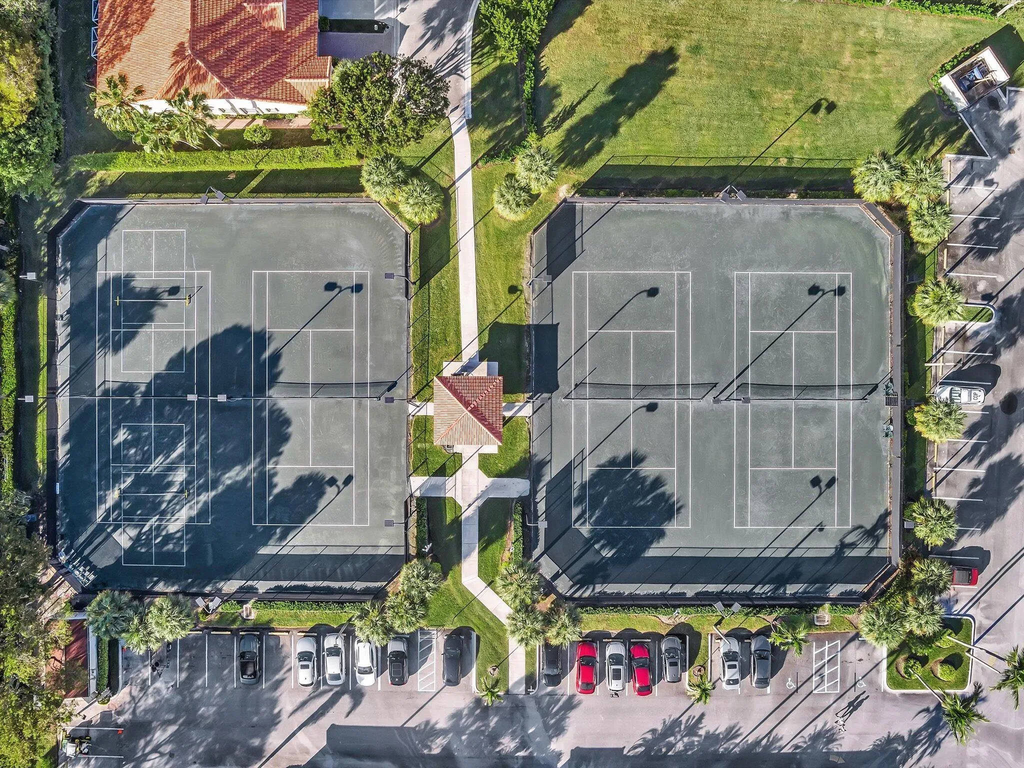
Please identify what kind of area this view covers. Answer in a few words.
sports ground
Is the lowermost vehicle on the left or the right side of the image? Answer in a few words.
left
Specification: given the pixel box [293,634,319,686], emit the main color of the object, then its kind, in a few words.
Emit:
white car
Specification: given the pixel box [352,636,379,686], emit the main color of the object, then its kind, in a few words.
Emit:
white car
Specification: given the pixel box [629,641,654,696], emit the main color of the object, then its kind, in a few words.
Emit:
red car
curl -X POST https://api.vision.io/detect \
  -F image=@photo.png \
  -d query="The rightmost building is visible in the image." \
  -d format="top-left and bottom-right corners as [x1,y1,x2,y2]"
[433,376,503,446]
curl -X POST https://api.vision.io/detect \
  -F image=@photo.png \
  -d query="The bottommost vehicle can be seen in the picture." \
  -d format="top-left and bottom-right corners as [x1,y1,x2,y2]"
[60,731,93,754]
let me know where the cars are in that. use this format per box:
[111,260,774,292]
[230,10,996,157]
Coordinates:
[236,630,262,684]
[440,632,464,685]
[659,634,685,682]
[748,633,774,688]
[352,636,379,686]
[942,564,977,589]
[629,641,654,696]
[932,382,984,406]
[574,640,600,694]
[321,631,348,684]
[293,634,319,686]
[540,632,565,686]
[384,635,411,685]
[718,635,743,689]
[603,640,629,692]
